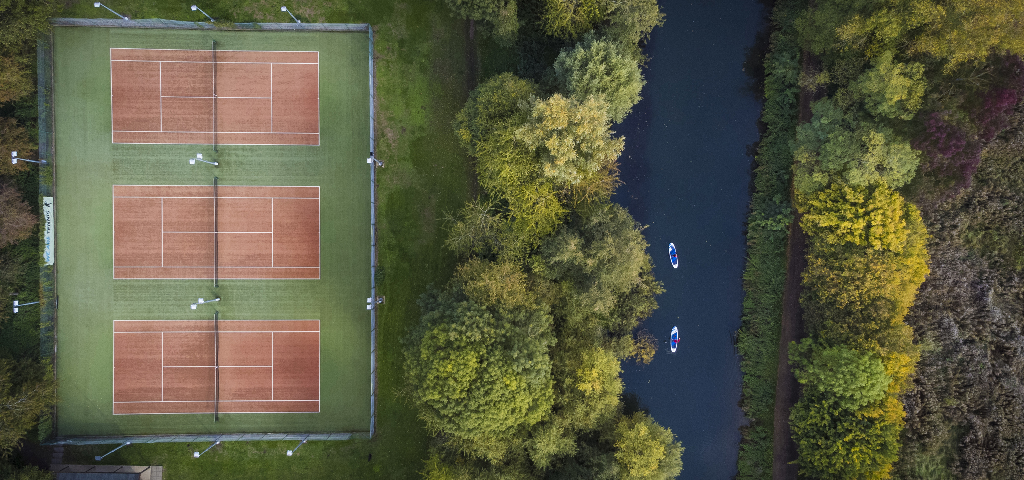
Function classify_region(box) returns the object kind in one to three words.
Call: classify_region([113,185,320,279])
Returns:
tennis court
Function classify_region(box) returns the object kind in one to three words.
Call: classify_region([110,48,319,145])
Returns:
tennis court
